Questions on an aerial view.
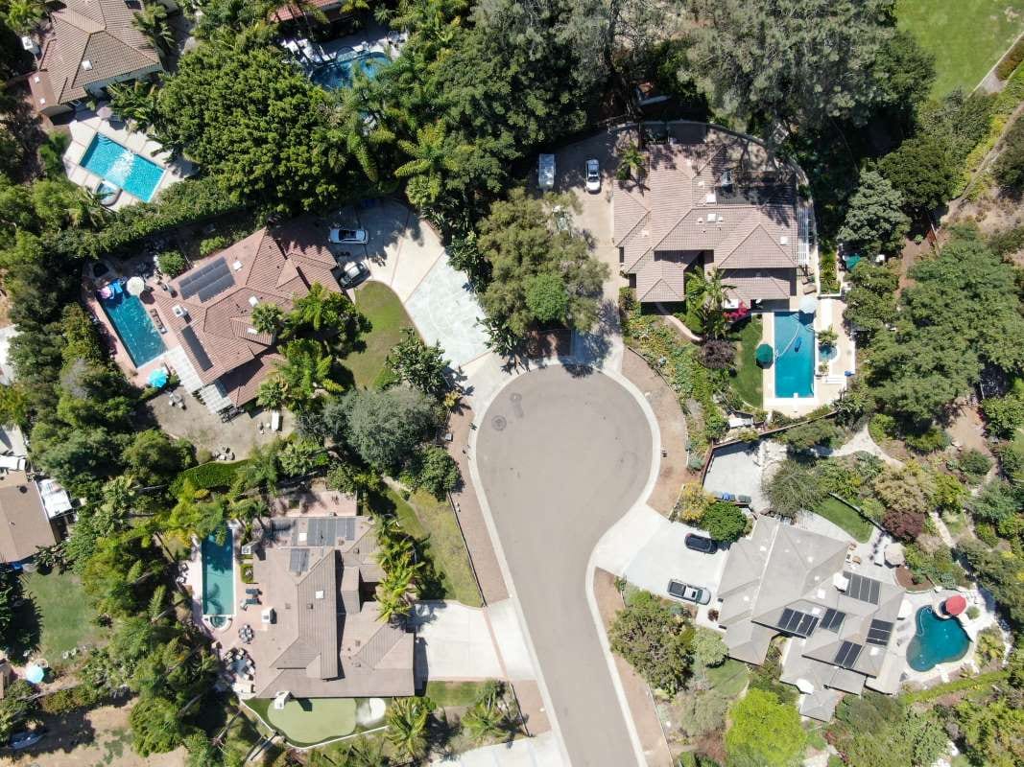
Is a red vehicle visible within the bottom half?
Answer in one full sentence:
No, there's no red vehicle to be seen within the bottom half.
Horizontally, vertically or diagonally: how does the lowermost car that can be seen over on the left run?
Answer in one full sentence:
What the image shows is the lowermost car that can be seen over on the left lying diagonally.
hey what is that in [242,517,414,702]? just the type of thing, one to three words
house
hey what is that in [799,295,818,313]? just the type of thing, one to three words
umbrella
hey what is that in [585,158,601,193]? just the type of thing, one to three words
car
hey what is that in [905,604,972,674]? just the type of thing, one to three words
swimming pool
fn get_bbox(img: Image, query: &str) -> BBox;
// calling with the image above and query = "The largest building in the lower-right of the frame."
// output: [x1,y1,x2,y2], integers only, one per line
[716,516,905,720]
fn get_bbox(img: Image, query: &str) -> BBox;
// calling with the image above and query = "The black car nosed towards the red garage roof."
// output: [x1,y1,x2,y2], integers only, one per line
[338,260,371,288]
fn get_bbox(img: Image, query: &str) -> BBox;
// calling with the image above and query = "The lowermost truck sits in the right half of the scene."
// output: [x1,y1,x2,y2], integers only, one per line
[665,578,711,605]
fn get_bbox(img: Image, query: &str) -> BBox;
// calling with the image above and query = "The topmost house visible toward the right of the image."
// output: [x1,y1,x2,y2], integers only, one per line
[613,144,812,309]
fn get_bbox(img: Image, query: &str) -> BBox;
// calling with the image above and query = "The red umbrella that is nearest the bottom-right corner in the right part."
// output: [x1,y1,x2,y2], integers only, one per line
[943,595,964,616]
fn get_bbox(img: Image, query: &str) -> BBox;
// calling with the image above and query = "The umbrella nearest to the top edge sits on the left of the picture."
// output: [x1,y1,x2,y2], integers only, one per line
[99,106,115,121]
